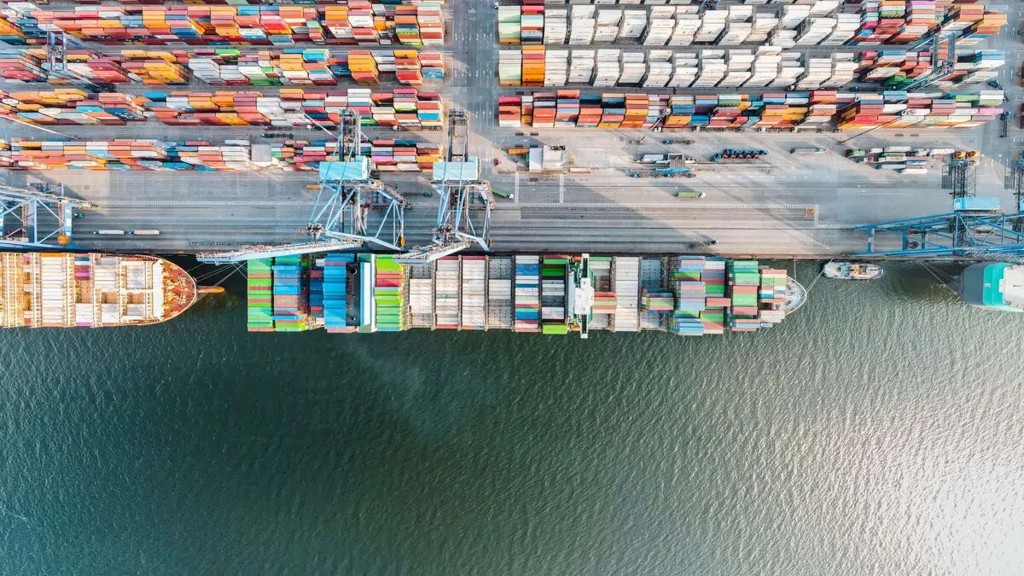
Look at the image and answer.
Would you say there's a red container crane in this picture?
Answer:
No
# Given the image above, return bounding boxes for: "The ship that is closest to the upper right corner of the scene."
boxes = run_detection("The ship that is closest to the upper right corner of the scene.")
[963,262,1024,311]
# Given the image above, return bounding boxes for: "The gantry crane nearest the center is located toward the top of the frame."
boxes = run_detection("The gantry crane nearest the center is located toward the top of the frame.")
[390,107,497,259]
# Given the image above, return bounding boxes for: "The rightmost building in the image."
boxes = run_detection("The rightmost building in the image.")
[527,146,567,174]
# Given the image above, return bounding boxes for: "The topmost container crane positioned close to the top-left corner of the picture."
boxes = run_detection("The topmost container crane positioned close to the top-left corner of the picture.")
[39,31,104,90]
